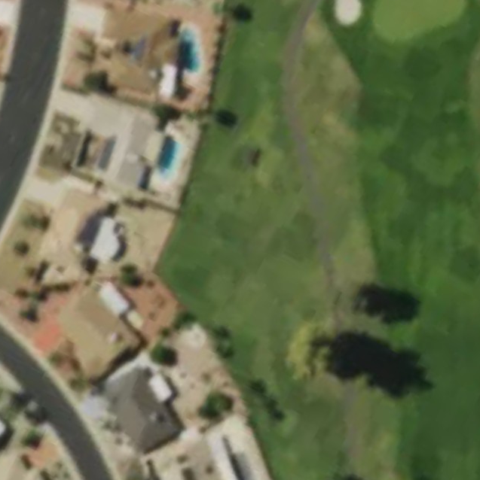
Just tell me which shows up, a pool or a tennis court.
pool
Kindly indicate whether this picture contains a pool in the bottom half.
No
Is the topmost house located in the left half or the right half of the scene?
left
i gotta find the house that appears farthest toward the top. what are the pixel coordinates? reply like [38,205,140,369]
[99,5,180,98]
